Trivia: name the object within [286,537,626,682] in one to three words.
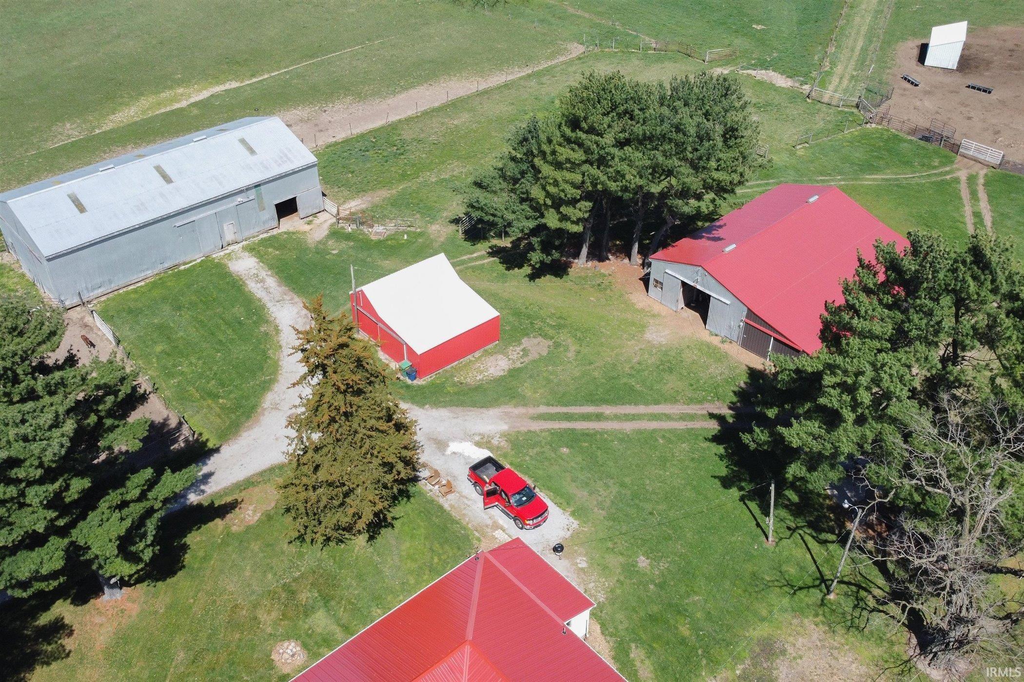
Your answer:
house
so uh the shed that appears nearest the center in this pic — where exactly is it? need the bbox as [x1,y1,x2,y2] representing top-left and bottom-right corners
[349,253,500,379]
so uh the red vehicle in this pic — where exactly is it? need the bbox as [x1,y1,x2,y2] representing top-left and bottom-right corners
[468,457,555,535]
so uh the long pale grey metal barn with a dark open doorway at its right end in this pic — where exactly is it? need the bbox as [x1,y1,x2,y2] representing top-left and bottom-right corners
[0,116,324,309]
